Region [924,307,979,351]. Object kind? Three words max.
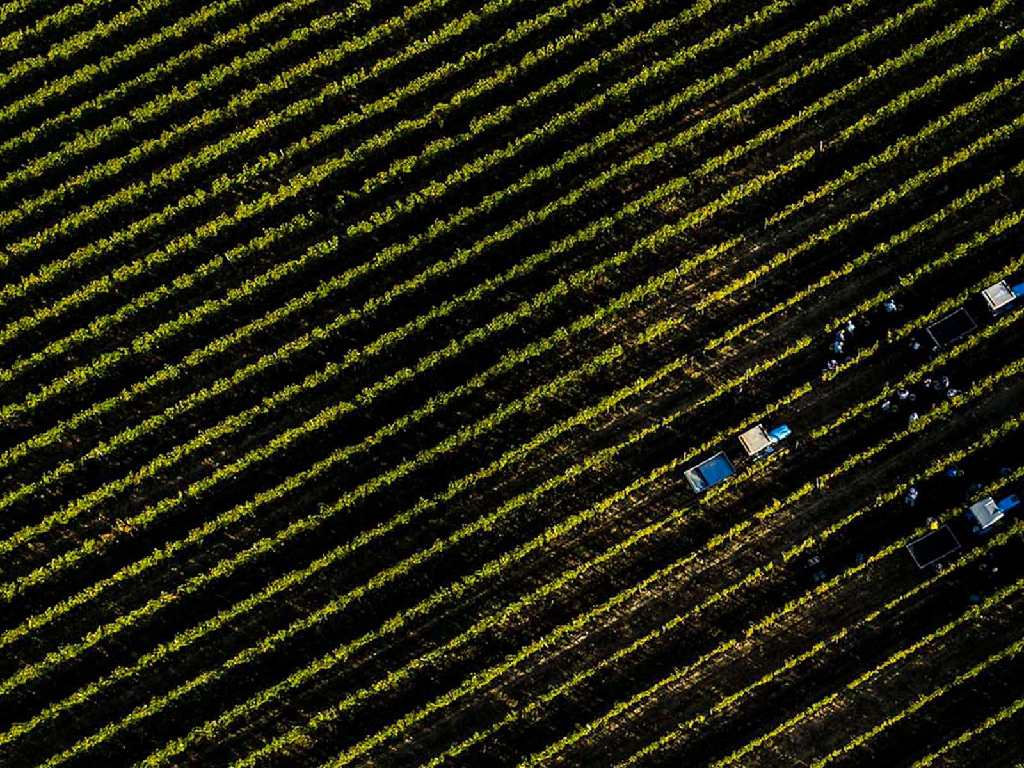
trailer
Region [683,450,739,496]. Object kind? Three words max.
trailer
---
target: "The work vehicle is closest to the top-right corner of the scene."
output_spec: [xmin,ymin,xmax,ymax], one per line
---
[976,281,1024,322]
